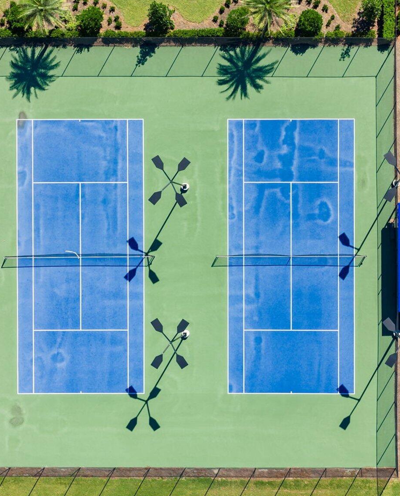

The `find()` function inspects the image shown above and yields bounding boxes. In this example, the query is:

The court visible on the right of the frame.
[185,47,397,467]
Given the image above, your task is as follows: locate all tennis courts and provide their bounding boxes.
[0,47,185,467]
[185,47,397,467]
